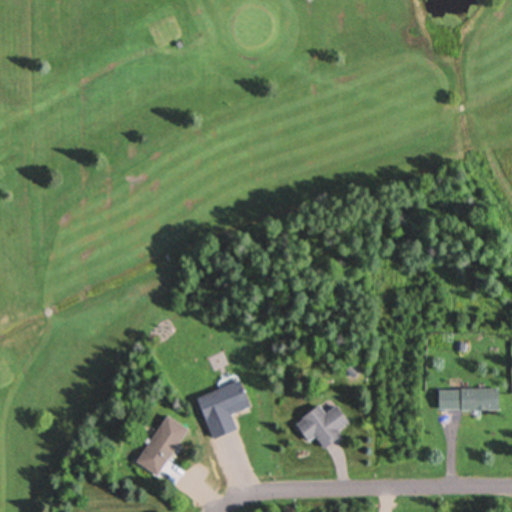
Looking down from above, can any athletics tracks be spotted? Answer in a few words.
No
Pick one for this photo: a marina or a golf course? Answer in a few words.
golf course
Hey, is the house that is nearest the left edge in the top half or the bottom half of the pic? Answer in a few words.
bottom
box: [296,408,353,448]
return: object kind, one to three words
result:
house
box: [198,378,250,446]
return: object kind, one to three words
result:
house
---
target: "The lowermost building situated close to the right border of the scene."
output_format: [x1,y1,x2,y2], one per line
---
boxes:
[439,378,501,412]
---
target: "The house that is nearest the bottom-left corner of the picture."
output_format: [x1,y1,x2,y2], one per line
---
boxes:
[136,416,188,476]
